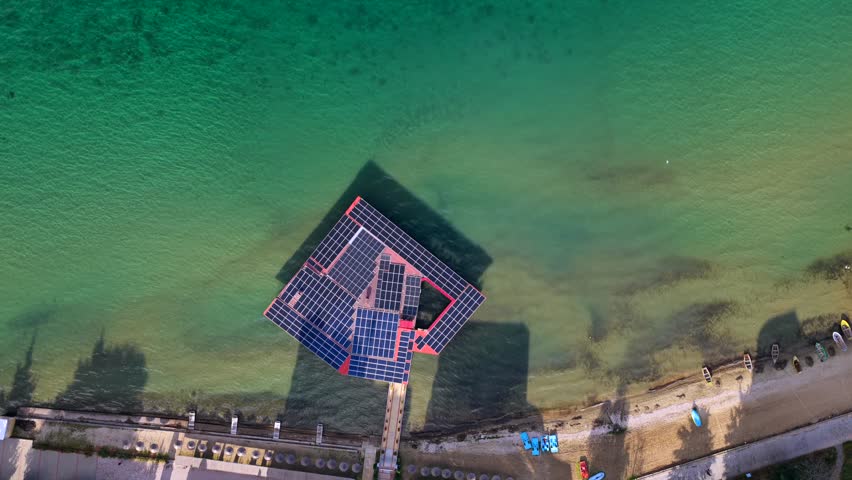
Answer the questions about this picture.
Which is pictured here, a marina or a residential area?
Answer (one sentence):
The picture captures a marina.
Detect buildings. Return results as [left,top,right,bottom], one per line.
[0,416,18,440]
[264,196,486,384]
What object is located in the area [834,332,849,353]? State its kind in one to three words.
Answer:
boat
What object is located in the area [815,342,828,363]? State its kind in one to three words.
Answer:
boat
